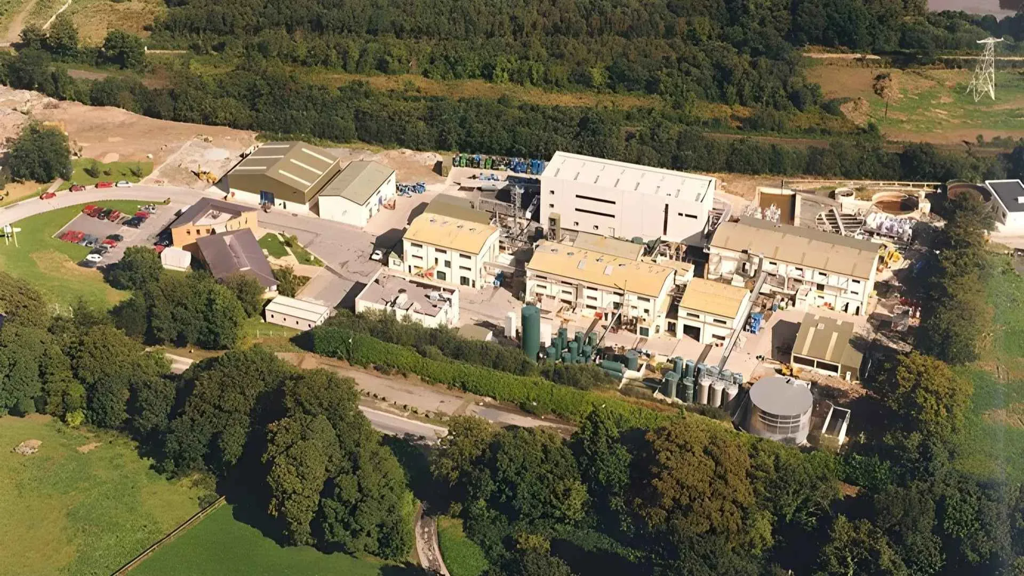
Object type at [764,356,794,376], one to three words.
work vehicle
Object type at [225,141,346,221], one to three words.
building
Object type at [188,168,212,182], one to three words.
work vehicle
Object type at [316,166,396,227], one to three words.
building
